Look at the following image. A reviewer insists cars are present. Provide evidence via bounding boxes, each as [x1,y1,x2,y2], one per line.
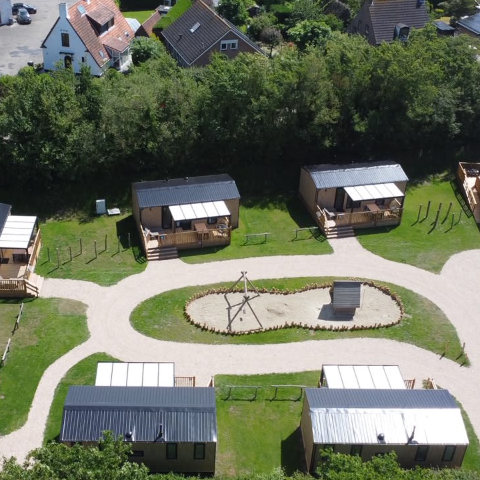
[10,0,45,14]
[18,5,34,23]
